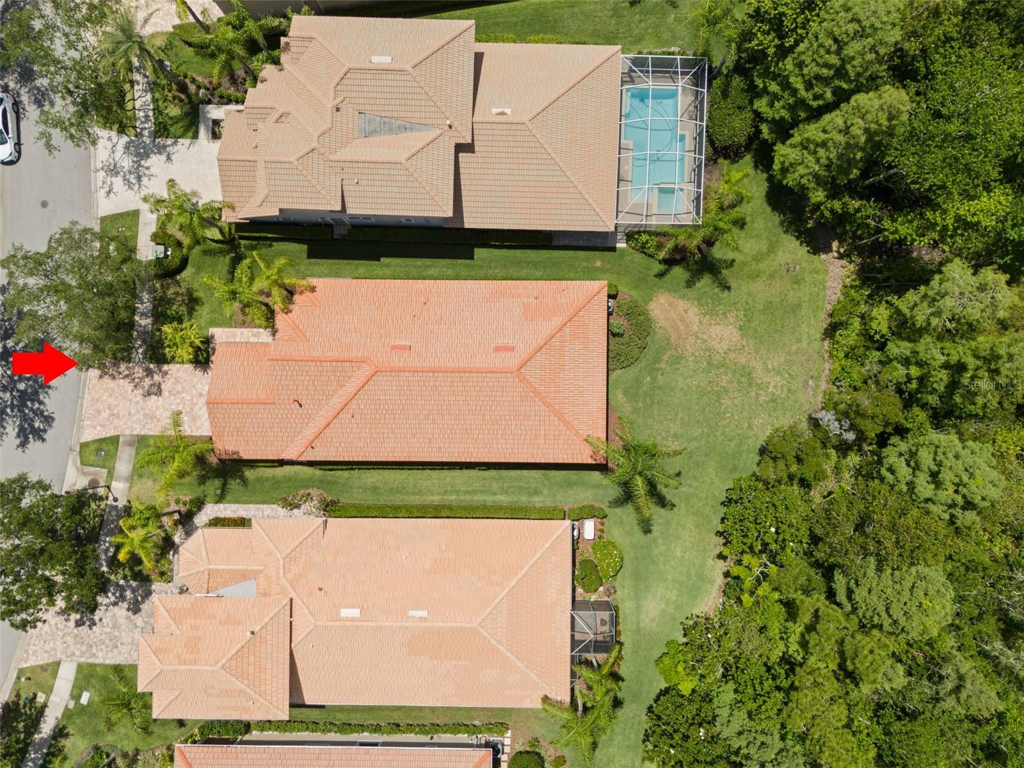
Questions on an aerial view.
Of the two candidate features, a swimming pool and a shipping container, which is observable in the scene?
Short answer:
swimming pool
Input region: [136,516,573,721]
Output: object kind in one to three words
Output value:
house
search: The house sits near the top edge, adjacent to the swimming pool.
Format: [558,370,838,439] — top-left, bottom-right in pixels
[216,15,623,234]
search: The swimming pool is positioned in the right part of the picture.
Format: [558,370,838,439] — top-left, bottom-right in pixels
[620,83,690,217]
